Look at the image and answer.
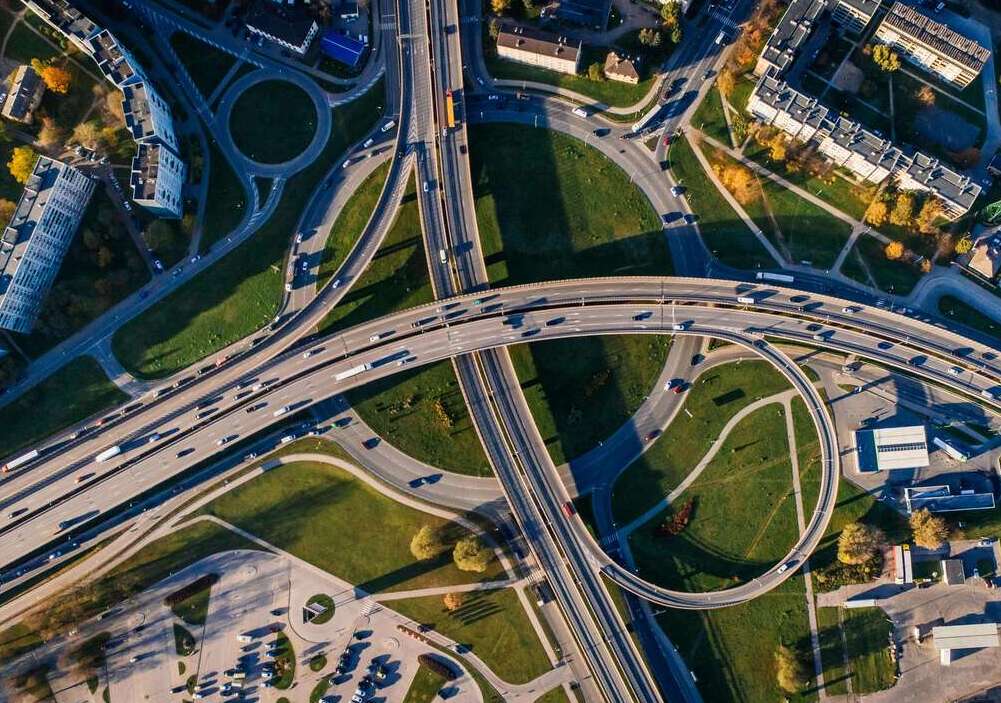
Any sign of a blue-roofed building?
Yes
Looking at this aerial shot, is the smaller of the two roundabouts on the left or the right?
left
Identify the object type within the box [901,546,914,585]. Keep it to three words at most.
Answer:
vehicle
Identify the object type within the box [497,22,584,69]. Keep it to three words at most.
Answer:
house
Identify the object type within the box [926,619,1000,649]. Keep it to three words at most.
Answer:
shed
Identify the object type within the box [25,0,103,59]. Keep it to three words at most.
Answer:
building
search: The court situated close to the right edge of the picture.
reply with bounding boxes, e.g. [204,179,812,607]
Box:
[914,109,980,151]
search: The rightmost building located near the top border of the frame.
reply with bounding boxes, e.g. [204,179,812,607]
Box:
[867,1,991,87]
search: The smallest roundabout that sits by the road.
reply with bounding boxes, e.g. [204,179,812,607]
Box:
[216,67,330,179]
